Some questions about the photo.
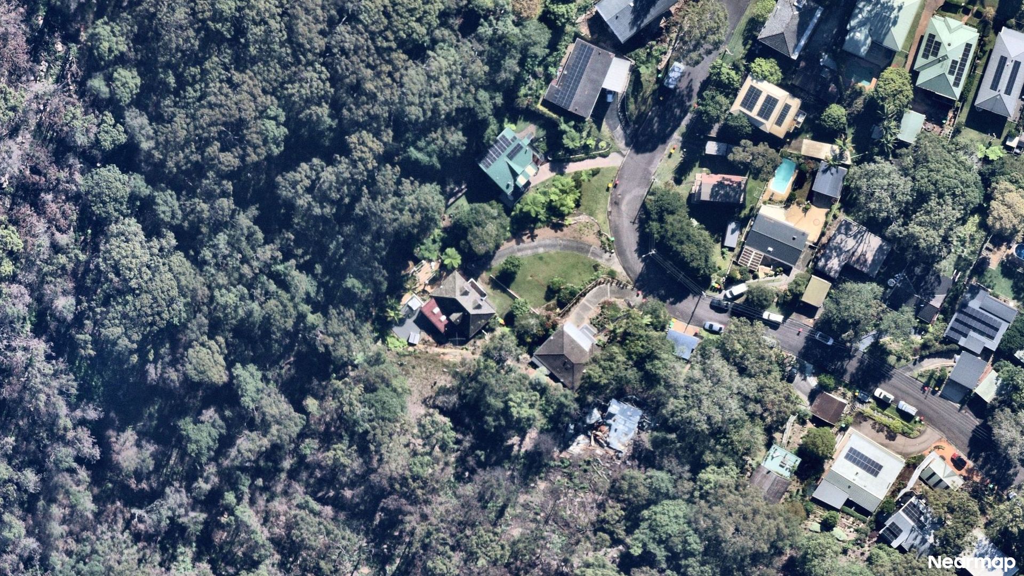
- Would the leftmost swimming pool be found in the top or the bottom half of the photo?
top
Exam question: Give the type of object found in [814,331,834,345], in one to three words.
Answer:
car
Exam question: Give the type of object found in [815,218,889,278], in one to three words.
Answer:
house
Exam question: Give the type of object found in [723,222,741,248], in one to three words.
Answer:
shed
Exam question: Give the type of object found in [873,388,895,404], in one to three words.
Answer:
vehicle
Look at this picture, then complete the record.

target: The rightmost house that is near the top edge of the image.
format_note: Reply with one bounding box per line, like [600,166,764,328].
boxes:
[975,28,1024,118]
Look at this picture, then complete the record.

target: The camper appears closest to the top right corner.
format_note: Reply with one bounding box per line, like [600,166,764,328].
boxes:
[665,60,683,88]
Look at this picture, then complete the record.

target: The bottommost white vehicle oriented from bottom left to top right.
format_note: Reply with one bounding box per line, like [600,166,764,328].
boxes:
[726,283,748,299]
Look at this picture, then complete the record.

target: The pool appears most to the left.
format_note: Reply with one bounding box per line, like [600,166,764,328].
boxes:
[770,155,798,195]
